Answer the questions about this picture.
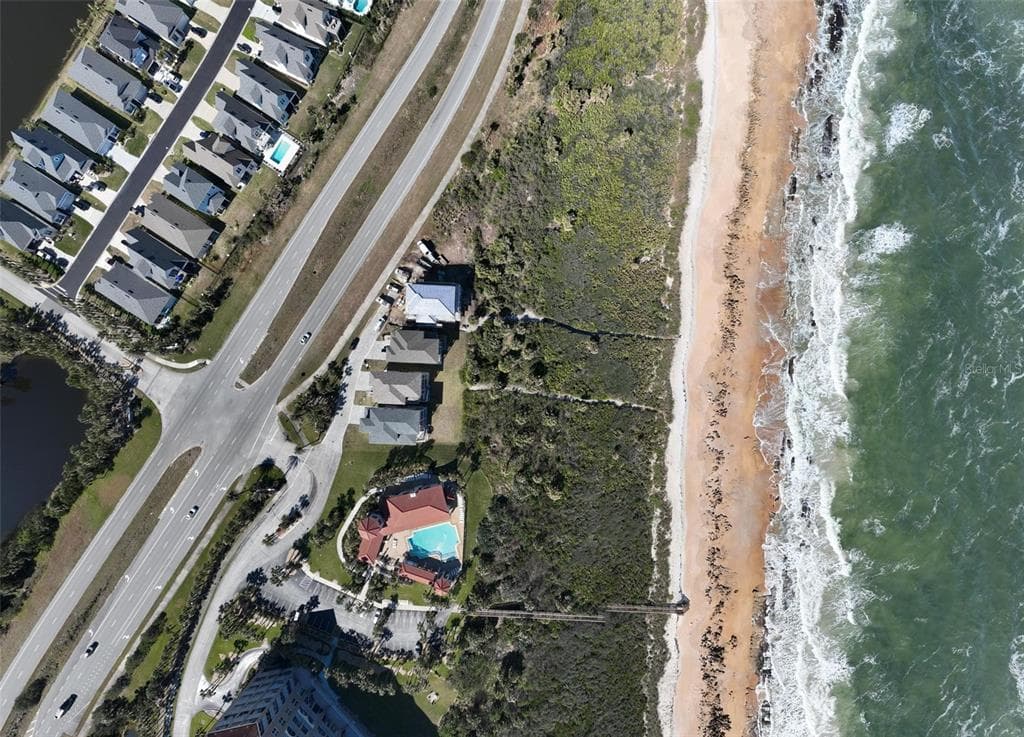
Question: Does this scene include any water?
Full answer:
Yes, there's water in this view.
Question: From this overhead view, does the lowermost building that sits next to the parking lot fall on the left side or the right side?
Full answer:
The lowermost building that sits next to the parking lot is on the left side of the image.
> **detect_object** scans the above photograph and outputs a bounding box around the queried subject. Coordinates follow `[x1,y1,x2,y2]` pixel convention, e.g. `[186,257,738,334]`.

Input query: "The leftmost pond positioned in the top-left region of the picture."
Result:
[0,0,90,150]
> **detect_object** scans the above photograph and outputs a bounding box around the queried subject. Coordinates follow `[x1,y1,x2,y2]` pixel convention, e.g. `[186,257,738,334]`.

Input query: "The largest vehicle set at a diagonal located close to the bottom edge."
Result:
[55,697,73,718]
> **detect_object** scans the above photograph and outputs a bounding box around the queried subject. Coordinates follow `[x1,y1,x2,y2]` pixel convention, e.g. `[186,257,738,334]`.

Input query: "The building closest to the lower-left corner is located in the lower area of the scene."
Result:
[203,670,357,737]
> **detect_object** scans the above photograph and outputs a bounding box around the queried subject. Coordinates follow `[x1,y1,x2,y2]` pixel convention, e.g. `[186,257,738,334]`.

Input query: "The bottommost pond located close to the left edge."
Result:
[0,355,86,536]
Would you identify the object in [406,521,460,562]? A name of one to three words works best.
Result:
swimming pool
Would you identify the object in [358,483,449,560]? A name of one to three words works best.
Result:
building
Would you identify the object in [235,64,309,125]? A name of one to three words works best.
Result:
house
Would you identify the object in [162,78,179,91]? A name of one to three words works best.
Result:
vehicle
